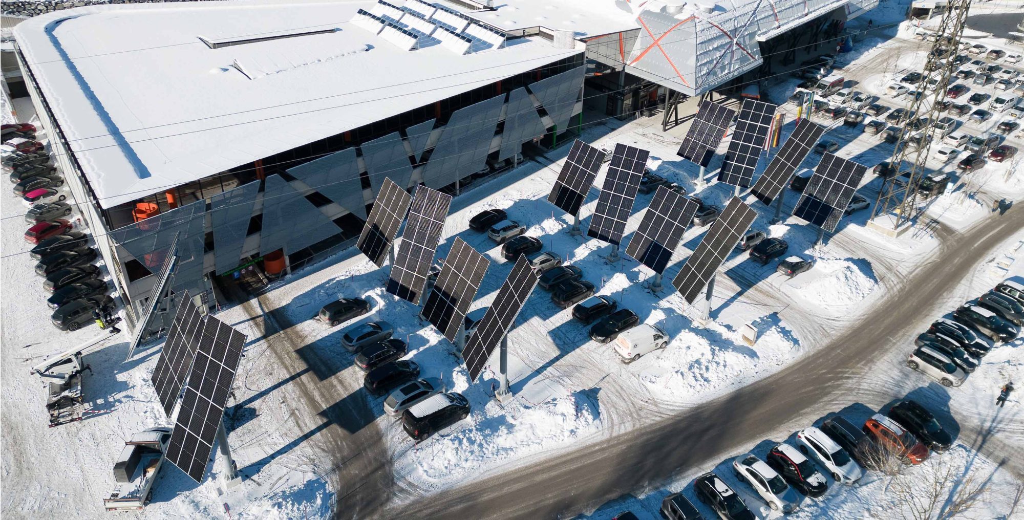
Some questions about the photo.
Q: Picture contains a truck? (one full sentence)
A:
Yes, a truck is visible in the scene.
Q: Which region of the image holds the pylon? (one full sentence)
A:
You can find the pylon in the top right area of the picture.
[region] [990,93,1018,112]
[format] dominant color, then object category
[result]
white vehicle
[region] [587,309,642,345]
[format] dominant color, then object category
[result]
black car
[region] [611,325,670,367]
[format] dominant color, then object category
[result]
white van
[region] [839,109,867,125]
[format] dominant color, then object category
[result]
gray car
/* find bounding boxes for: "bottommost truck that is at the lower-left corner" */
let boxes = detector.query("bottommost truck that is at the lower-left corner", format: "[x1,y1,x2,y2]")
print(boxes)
[98,432,166,510]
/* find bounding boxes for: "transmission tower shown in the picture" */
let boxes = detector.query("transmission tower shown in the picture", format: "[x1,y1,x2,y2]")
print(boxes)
[861,0,978,235]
